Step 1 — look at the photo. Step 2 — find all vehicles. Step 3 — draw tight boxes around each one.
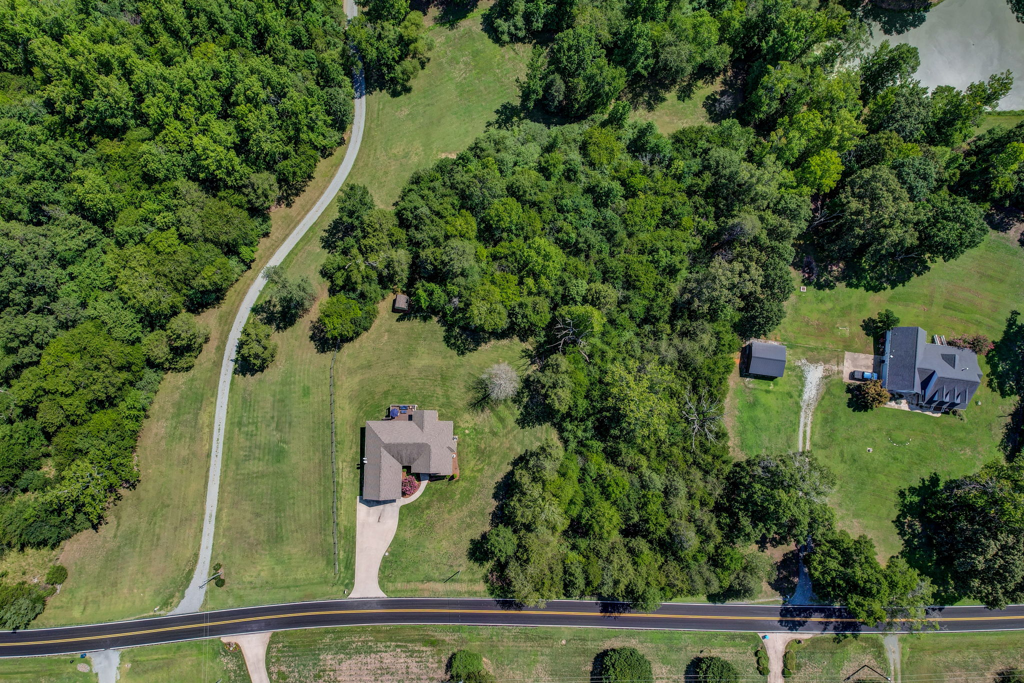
[851,370,878,382]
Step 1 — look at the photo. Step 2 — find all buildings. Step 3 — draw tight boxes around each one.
[747,342,786,377]
[395,294,411,311]
[364,410,456,500]
[881,327,983,410]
